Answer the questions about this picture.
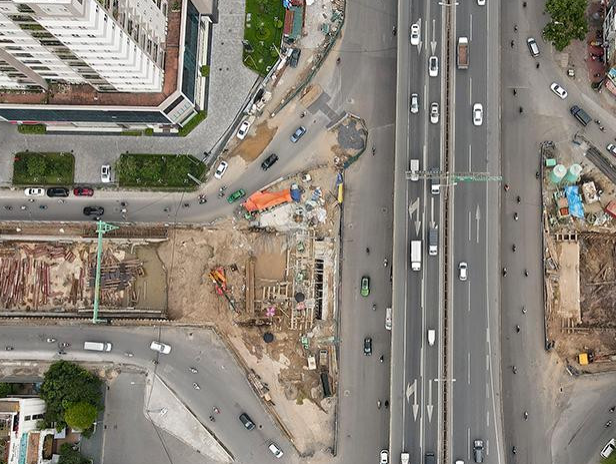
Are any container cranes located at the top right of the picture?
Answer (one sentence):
No, the scene shows no container crane at the top right of the picture.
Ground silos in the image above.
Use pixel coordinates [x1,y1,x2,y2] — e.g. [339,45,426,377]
[564,162,582,180]
[547,165,565,184]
